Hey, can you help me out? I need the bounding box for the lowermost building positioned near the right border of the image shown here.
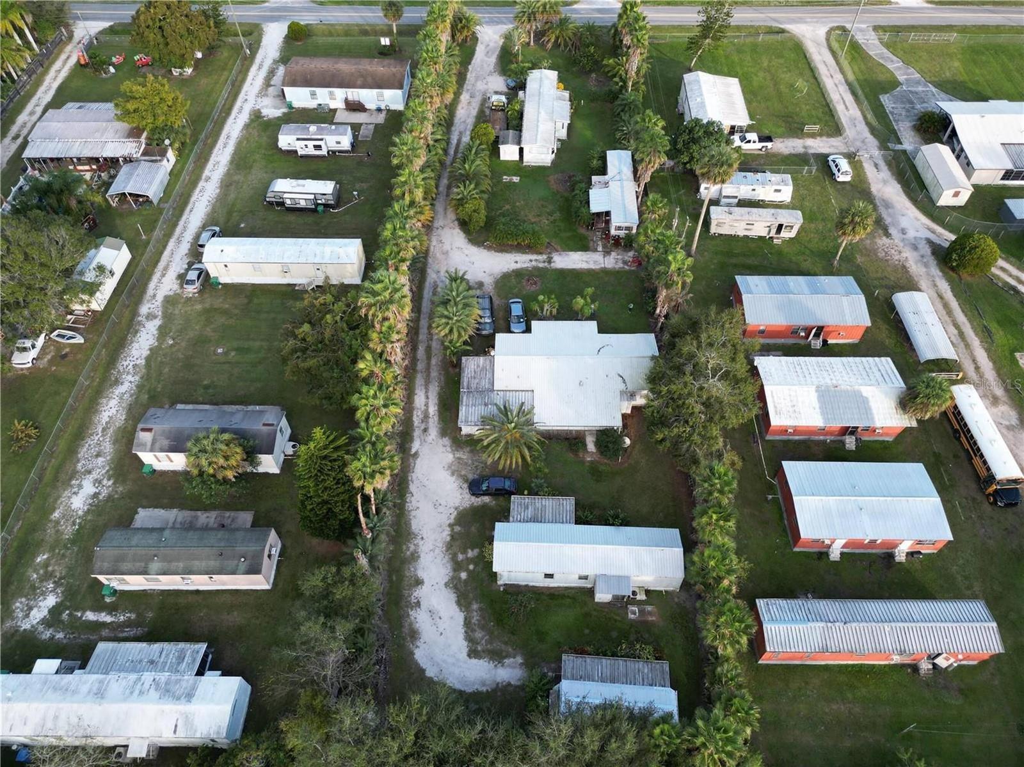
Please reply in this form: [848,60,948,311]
[749,599,1003,667]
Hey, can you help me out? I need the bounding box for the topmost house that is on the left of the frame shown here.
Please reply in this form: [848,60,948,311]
[282,57,410,109]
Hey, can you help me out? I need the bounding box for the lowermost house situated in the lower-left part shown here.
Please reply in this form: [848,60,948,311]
[0,642,247,760]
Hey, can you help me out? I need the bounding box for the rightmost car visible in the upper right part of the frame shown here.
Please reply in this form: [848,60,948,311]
[830,155,854,180]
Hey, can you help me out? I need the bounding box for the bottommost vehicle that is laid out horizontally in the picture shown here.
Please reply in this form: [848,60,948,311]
[468,474,518,497]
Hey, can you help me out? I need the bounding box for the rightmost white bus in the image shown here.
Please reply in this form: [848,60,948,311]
[949,387,1024,501]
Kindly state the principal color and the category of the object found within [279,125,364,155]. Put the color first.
white trailer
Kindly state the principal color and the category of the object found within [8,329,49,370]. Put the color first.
white truck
